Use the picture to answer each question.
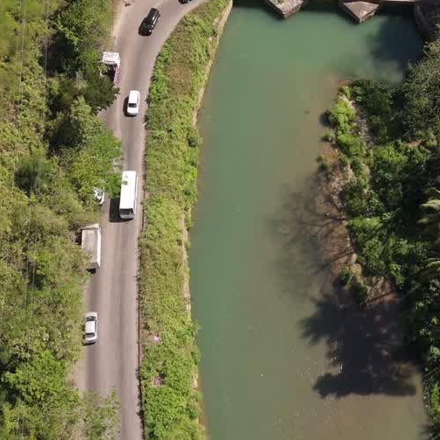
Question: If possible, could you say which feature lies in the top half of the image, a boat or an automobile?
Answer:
automobile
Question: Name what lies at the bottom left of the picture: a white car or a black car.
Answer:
white car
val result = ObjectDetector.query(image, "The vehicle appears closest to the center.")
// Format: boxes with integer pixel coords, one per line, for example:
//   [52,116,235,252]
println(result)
[117,174,141,223]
